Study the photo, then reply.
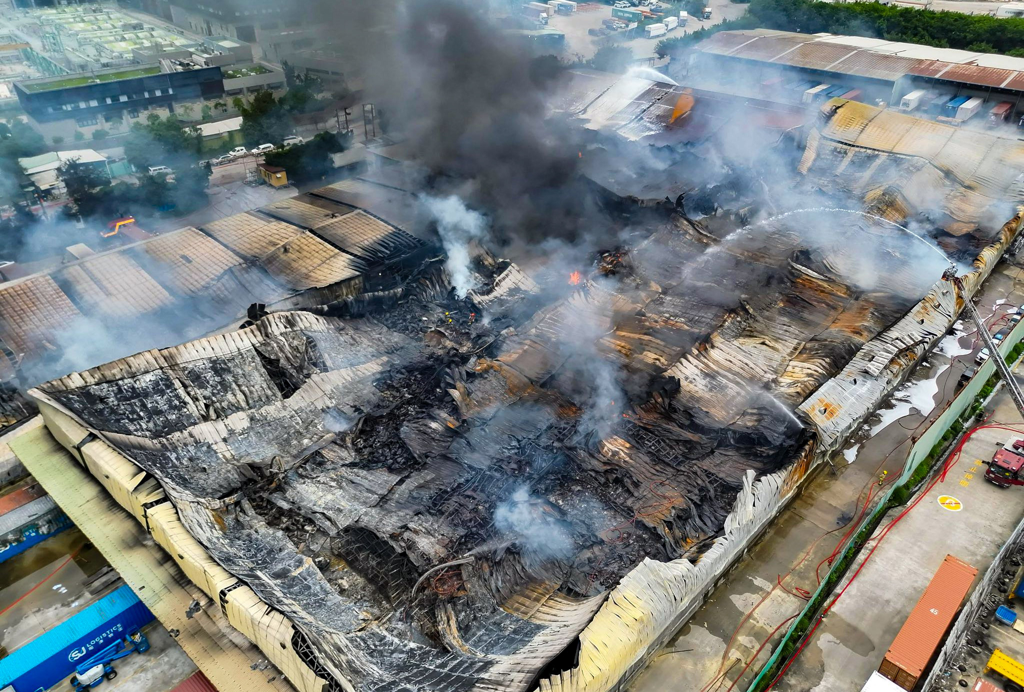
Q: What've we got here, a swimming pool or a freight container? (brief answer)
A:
freight container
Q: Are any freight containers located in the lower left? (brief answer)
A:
Yes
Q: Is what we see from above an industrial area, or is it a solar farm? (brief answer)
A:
industrial area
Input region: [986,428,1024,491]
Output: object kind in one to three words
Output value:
truck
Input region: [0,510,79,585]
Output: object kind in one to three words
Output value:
shipping container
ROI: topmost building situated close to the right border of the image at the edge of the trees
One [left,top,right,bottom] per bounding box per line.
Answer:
[684,28,1024,125]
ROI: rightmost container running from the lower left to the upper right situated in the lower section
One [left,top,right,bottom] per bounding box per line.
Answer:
[876,555,979,692]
